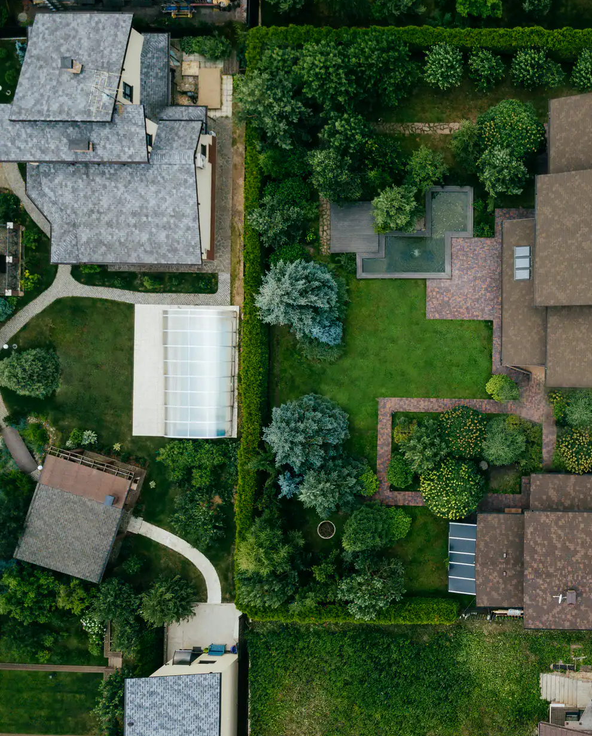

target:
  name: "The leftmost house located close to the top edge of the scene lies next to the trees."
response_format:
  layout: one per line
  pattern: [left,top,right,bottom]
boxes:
[0,12,220,266]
